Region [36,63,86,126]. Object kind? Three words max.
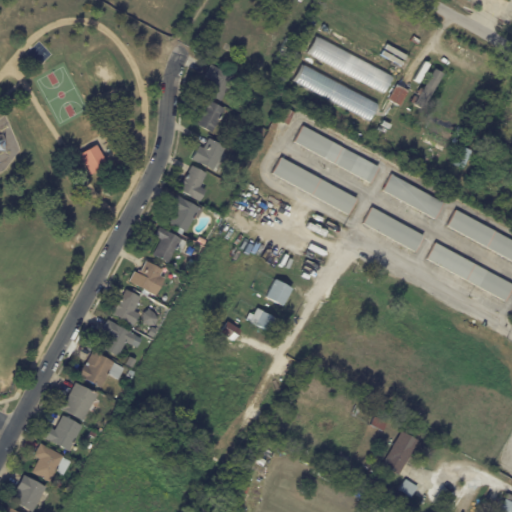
basketball court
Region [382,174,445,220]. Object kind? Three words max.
building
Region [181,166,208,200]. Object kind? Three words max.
house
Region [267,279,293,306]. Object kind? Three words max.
shed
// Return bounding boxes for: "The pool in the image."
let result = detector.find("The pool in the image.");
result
[193,212,212,235]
